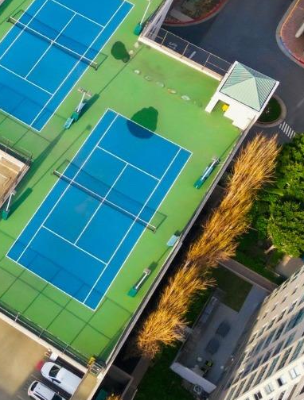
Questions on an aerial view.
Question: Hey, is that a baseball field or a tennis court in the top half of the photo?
tennis court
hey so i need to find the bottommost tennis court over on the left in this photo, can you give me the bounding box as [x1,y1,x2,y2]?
[7,107,192,311]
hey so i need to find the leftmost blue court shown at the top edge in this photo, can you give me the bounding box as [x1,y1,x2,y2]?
[0,0,134,132]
